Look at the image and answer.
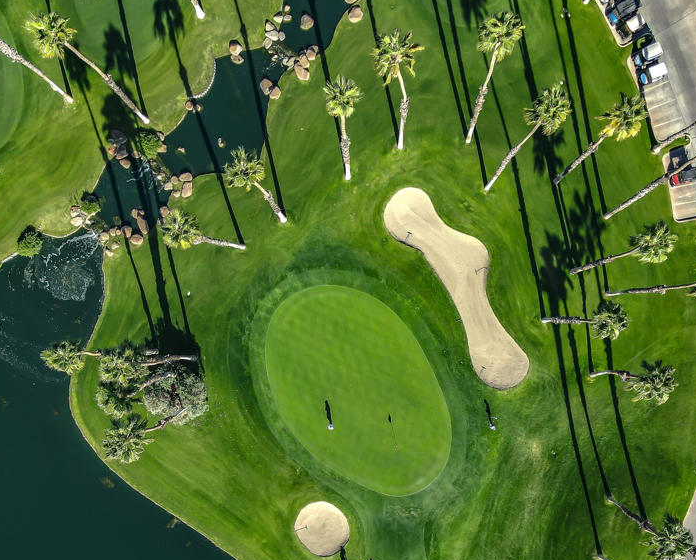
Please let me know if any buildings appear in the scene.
No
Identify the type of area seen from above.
golf course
